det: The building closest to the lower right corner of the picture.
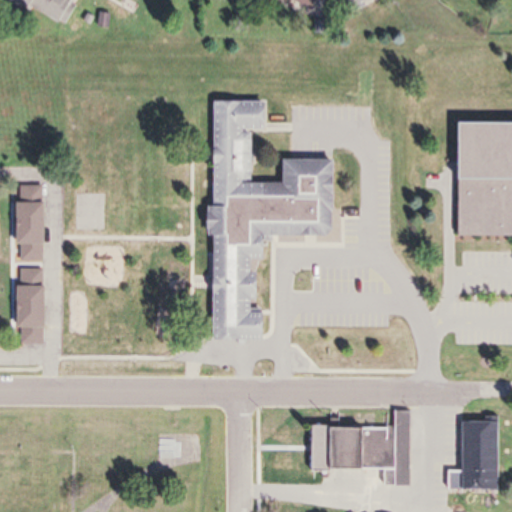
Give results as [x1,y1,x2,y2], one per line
[448,420,499,488]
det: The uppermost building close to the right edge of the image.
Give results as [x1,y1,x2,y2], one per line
[458,122,512,235]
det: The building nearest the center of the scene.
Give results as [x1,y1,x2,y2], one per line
[206,100,334,338]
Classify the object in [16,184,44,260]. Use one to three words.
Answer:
building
